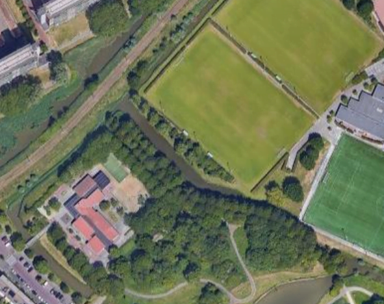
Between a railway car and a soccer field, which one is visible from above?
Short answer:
soccer field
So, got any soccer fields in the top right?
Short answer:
Yes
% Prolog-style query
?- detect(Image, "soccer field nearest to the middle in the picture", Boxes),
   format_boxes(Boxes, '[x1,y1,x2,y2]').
[147,31,313,190]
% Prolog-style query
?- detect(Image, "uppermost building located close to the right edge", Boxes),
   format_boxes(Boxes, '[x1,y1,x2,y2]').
[335,84,384,139]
